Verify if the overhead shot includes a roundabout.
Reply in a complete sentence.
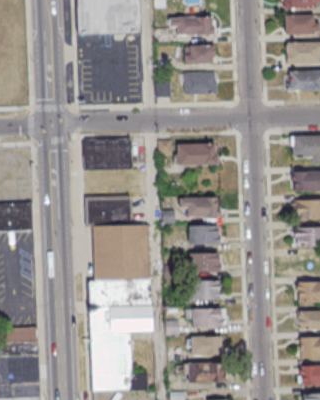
No, the photo shows no roundabout.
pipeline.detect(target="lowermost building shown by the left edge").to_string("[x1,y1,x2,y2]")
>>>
[0,384,40,398]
